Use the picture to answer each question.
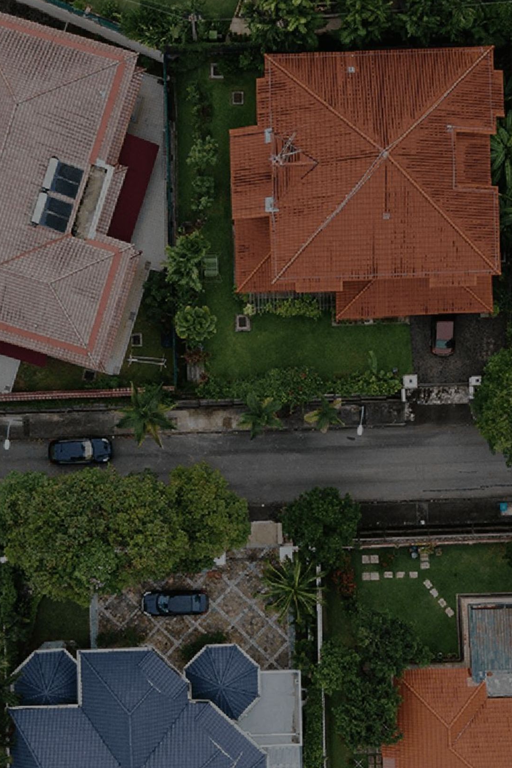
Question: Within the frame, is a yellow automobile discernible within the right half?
No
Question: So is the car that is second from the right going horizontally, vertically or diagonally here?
horizontally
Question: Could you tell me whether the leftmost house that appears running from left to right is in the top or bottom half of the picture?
bottom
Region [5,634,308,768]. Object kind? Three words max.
house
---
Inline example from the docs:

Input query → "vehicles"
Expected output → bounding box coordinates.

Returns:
[141,587,211,621]
[45,435,115,468]
[428,315,458,358]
